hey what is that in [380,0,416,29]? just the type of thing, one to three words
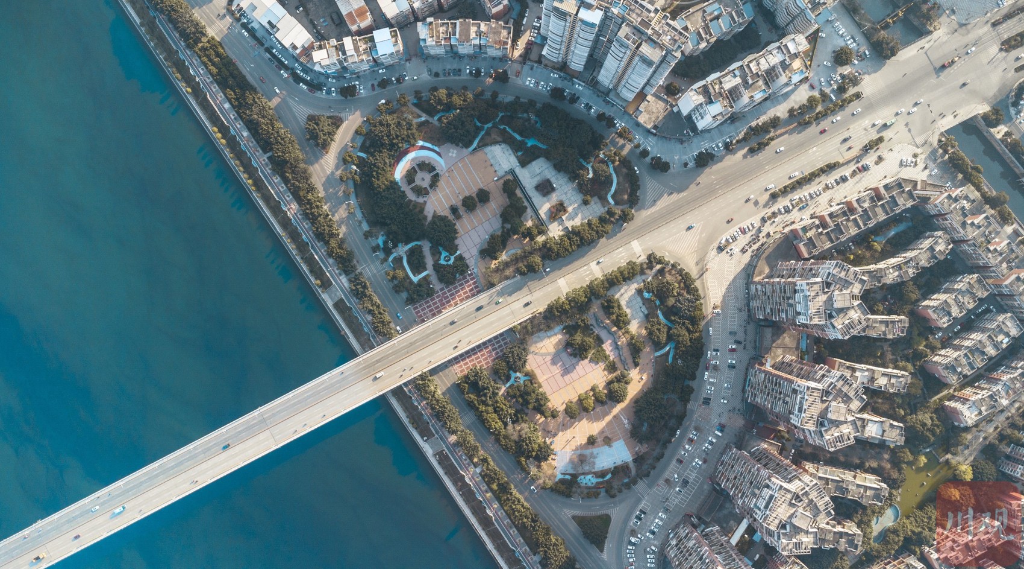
building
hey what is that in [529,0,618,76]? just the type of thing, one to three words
building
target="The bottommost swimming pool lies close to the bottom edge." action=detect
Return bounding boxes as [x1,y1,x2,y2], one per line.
[873,505,900,542]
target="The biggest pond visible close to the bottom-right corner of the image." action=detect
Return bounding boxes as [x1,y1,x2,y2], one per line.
[899,451,954,517]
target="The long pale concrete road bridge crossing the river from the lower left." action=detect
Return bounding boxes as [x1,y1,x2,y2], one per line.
[0,226,645,569]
